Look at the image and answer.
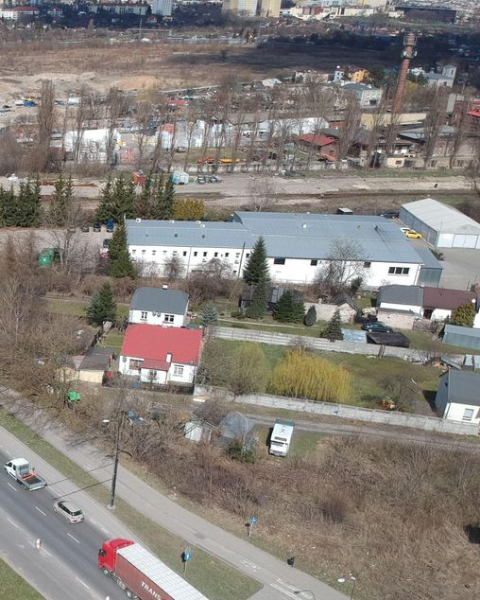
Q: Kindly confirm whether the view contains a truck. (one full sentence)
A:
Yes, a truck is visible in the scene.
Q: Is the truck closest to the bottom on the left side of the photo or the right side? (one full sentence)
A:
You can find the truck closest to the bottom on the left side of the picture.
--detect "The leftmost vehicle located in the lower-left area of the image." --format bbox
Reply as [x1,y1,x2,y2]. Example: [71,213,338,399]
[2,453,53,492]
